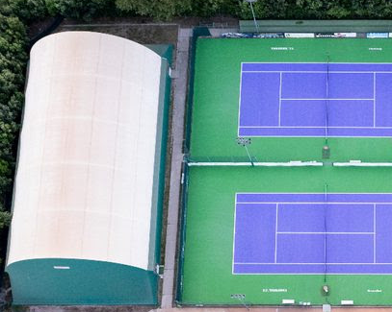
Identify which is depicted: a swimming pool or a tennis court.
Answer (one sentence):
Looking from above, you can make out a tennis court.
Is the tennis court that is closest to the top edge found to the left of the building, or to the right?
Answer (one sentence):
From the viewer's perspective, the tennis court that is closest to the top edge falls to the right of the building.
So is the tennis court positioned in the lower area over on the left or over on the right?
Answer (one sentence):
The tennis court positioned in the lower area is on the right side of the image.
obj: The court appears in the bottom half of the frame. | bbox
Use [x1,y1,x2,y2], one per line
[179,163,392,305]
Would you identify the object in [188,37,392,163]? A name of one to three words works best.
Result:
tennis court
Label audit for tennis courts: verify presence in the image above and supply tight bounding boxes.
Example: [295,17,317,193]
[188,37,392,163]
[179,163,392,305]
